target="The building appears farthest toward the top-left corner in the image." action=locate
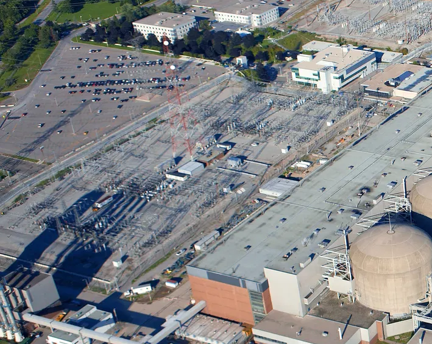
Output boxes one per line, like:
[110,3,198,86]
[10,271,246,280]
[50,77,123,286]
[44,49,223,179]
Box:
[133,11,202,42]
